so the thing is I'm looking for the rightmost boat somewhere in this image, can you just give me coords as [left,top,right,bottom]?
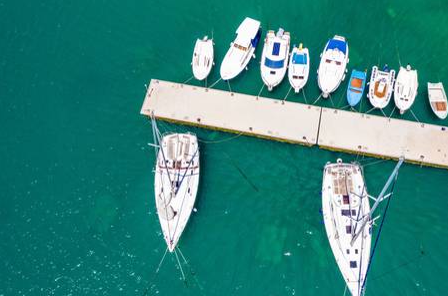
[427,83,448,120]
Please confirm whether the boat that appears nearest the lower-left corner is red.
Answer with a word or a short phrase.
No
